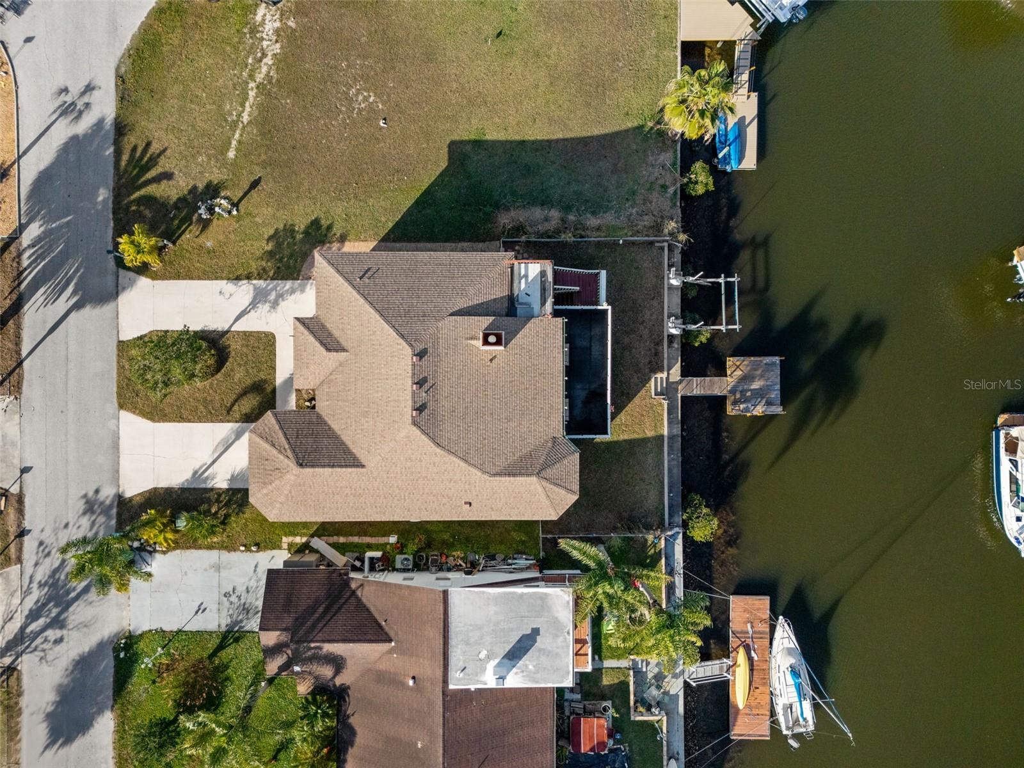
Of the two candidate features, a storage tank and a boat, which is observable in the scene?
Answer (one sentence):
Looking from above, you can make out a boat.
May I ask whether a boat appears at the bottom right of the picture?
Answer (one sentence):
Yes, a boat is visible at the bottom right of the picture.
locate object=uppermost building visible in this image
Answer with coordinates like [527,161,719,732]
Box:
[247,249,614,522]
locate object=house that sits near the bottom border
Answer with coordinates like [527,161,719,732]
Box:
[260,562,593,768]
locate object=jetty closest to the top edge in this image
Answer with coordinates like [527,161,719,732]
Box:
[683,0,760,44]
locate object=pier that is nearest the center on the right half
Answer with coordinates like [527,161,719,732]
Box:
[683,356,786,416]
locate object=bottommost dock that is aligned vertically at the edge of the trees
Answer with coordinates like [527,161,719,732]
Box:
[727,592,770,740]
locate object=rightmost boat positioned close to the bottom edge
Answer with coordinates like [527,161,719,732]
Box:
[765,614,872,756]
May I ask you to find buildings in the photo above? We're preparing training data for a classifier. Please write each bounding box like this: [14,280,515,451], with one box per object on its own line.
[247,249,614,522]
[260,562,593,768]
